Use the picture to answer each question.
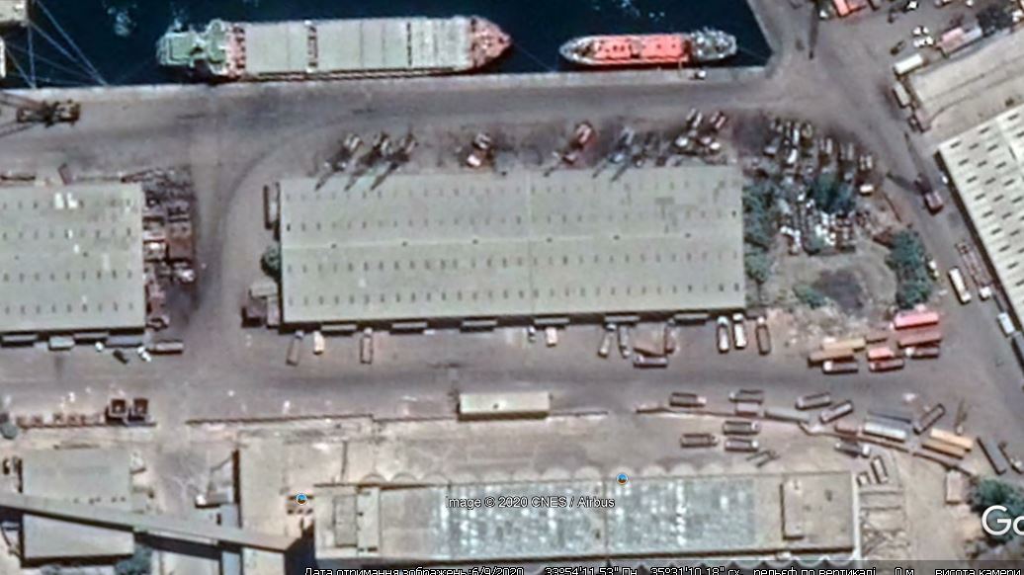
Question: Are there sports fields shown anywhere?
No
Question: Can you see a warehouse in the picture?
Yes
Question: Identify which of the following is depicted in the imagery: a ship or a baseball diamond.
ship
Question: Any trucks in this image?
Yes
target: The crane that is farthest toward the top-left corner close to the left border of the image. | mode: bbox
[0,99,79,123]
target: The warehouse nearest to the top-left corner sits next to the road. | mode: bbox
[0,184,145,341]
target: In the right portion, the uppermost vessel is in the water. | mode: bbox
[560,30,737,66]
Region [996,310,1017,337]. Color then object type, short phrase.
white truck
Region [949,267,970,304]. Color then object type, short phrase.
white truck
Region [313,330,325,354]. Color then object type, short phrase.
white vehicle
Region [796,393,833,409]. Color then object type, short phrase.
gray vehicle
